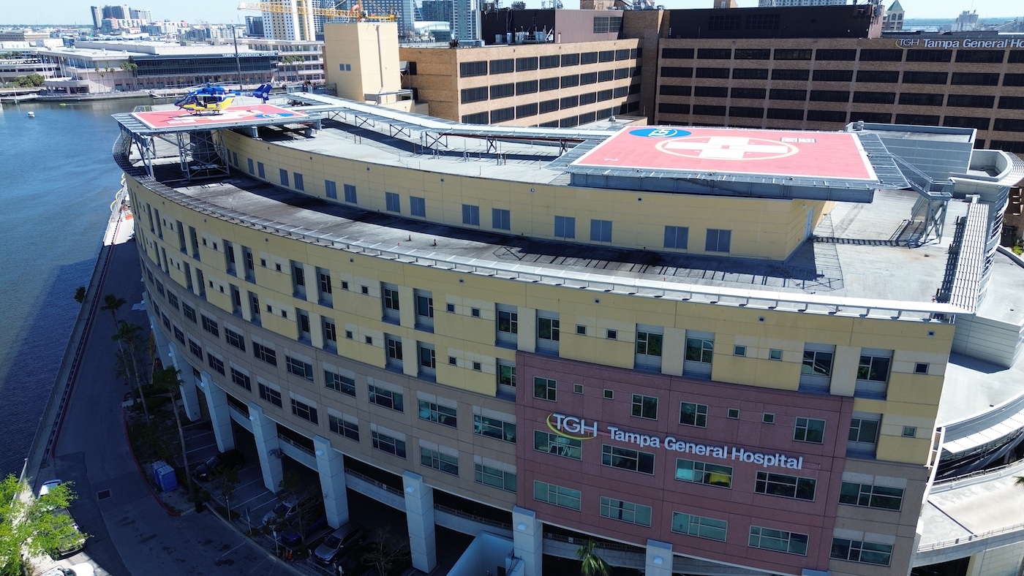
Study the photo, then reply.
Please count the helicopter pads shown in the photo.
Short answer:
2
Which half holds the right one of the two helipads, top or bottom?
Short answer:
top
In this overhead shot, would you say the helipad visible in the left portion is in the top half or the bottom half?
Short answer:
top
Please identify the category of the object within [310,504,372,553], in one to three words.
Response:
car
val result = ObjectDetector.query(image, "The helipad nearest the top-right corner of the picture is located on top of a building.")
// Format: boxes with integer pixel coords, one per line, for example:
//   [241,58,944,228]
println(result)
[545,124,912,205]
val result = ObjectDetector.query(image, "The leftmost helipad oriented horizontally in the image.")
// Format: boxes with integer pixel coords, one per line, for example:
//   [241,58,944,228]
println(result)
[113,103,328,184]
